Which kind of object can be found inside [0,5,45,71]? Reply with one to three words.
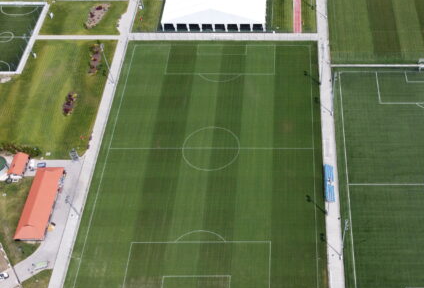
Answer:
sports field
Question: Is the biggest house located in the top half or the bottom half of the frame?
bottom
